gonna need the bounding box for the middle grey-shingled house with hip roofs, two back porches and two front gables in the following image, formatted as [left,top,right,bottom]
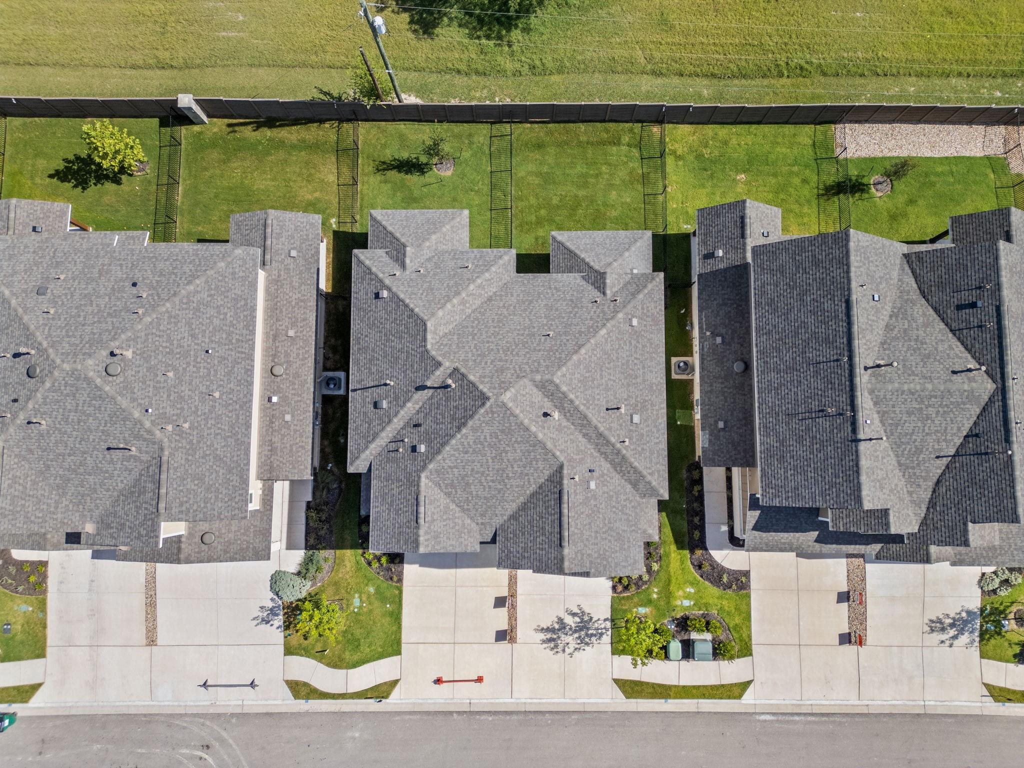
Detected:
[346,208,670,577]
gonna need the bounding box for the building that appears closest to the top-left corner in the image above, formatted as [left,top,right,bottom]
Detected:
[0,198,326,564]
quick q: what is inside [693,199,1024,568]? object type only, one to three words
house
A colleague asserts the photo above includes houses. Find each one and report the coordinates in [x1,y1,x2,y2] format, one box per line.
[693,199,1024,568]
[0,198,326,564]
[346,208,670,577]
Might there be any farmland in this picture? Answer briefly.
No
